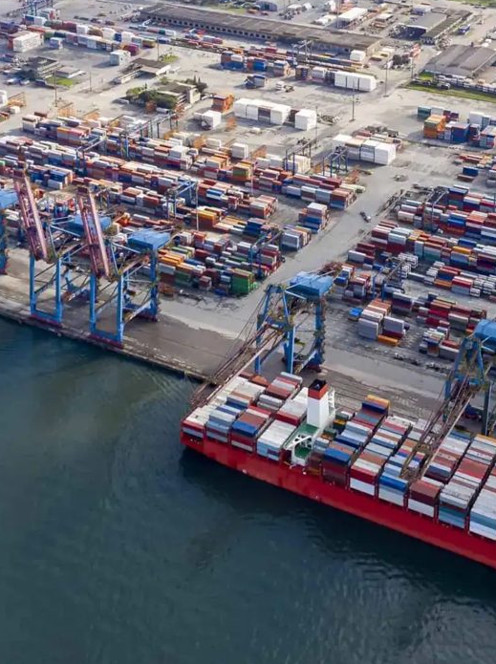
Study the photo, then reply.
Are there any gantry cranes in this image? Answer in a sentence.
Yes, the image includes a gantry crane.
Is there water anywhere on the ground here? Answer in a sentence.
Yes, there's water in this view.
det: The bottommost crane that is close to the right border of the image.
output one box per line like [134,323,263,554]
[387,315,496,484]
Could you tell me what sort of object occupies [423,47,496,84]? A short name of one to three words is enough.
building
